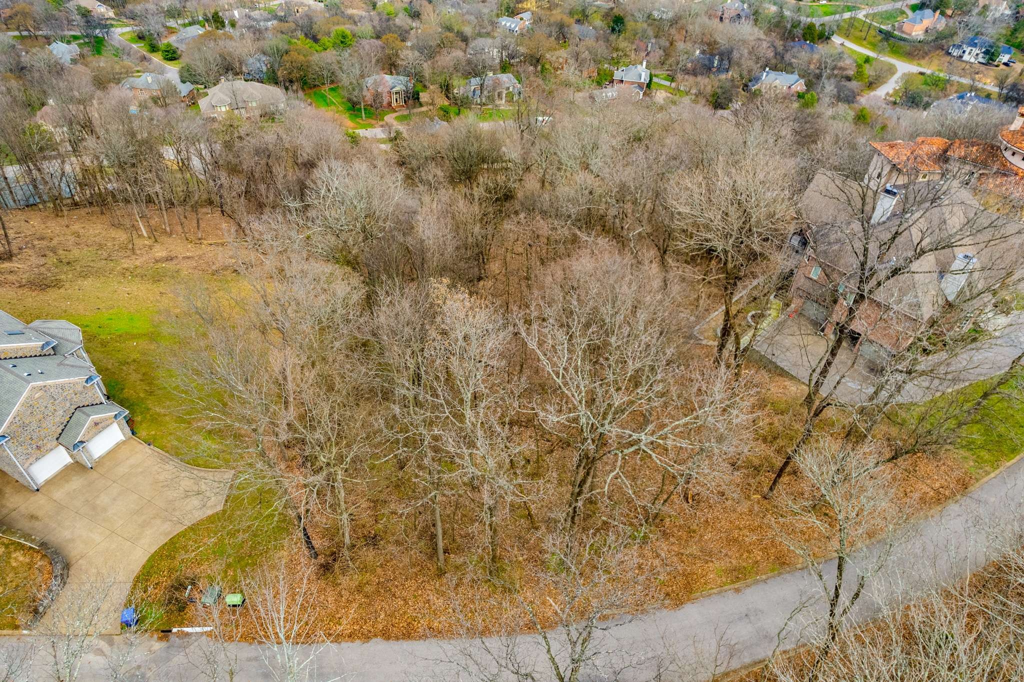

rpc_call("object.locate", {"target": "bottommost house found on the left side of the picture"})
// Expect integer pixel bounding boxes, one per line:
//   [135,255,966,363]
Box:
[0,300,141,491]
